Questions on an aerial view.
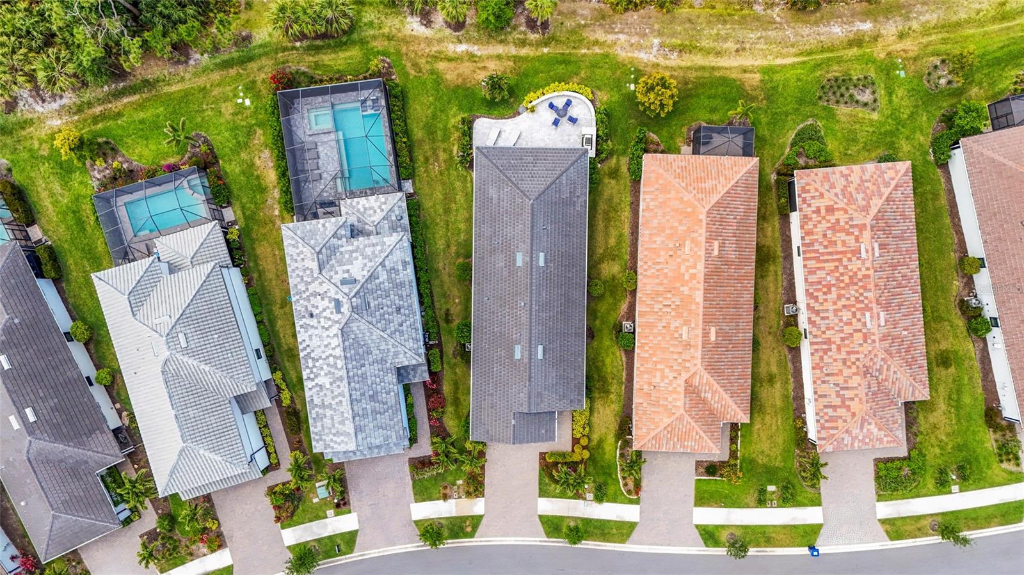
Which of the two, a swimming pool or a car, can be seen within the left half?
swimming pool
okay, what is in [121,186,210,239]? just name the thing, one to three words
swimming pool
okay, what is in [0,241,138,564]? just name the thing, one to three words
house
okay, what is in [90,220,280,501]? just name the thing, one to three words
house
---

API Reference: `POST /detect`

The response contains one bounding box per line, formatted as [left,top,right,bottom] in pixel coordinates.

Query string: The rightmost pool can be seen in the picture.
[329,98,393,194]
